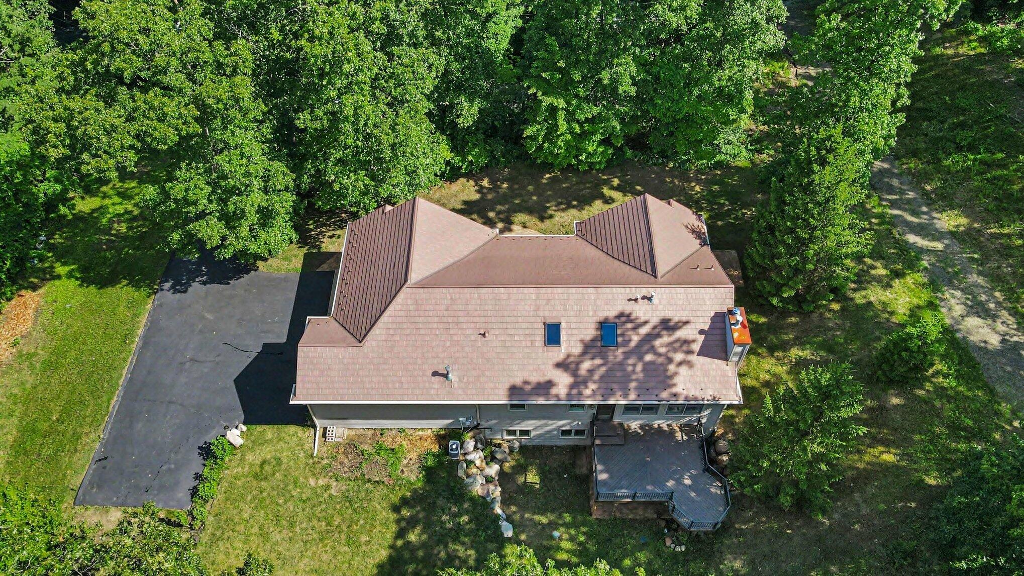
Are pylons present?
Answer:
No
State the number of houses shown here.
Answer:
1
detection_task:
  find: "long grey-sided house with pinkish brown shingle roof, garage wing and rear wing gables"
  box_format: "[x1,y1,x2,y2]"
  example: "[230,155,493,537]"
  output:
[290,193,752,456]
